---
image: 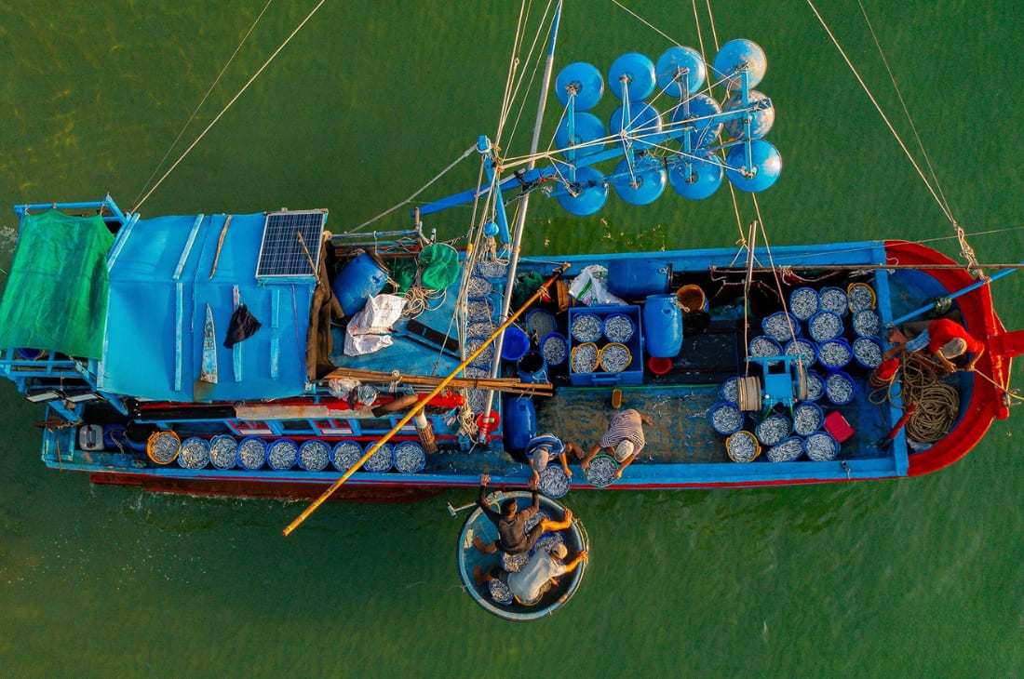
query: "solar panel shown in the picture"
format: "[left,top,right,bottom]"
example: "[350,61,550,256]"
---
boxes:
[256,208,327,287]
